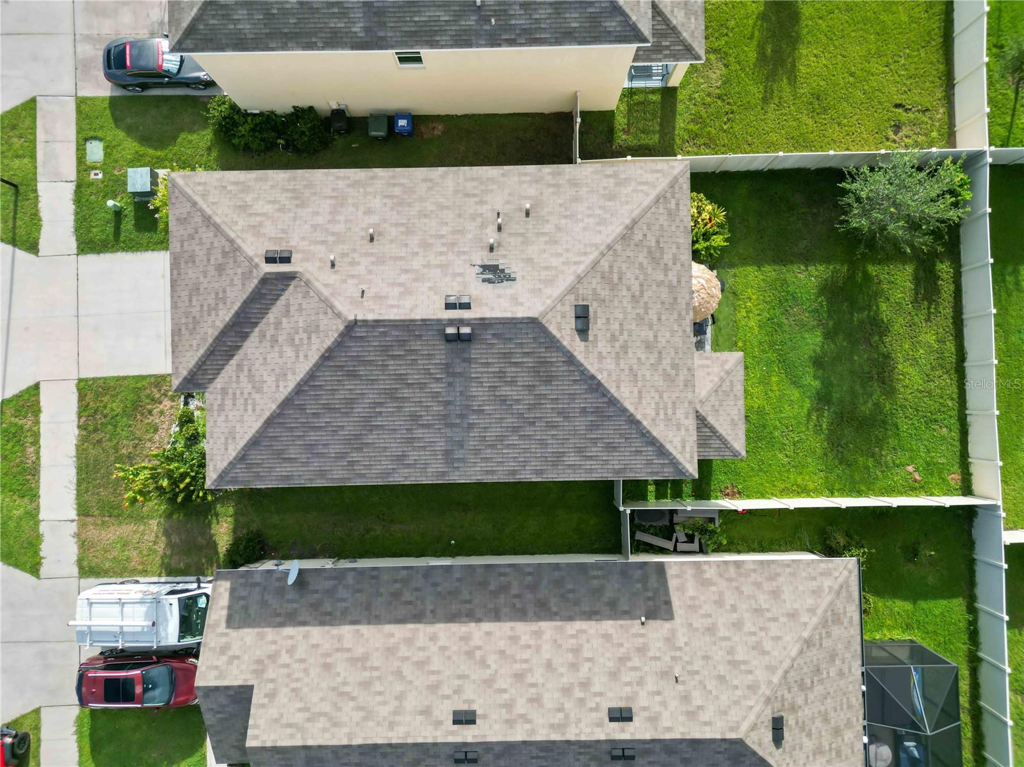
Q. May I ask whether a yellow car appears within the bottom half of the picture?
No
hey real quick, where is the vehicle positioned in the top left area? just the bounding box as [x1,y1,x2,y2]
[103,33,216,96]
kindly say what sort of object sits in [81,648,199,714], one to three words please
car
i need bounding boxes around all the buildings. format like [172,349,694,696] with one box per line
[167,0,707,114]
[168,158,748,491]
[193,550,870,767]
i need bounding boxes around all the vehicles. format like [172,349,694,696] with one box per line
[0,729,28,767]
[103,33,216,96]
[81,648,199,714]
[79,582,211,656]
